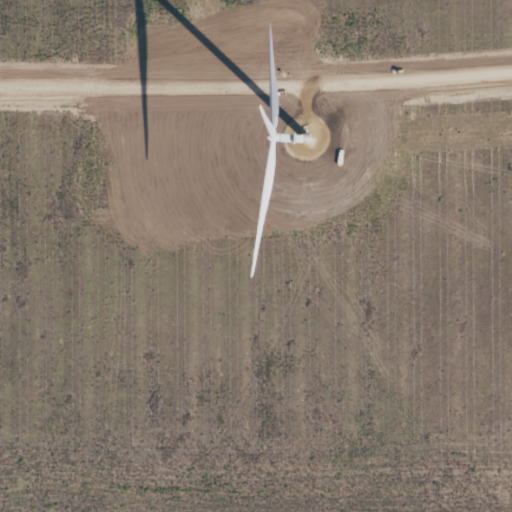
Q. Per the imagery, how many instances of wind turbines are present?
1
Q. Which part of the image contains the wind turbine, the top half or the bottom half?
top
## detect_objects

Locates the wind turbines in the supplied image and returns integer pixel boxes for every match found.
[252,28,320,275]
